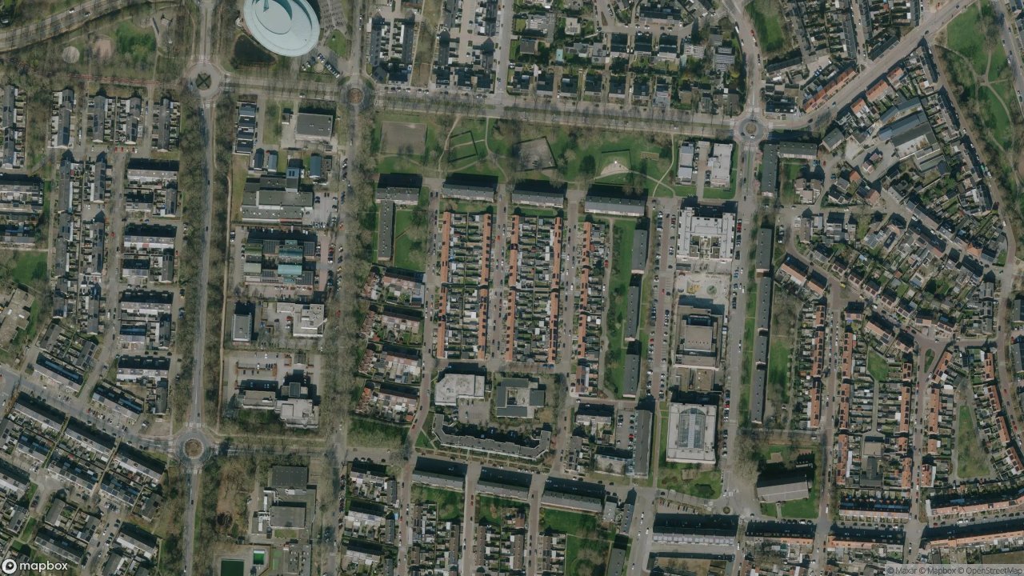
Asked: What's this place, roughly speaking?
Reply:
residential area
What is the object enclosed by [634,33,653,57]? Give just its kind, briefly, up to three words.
house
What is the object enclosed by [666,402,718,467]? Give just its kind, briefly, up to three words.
building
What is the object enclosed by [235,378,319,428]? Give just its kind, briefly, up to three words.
house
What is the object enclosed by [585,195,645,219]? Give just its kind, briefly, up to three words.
building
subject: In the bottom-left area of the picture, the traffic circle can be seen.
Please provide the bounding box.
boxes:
[171,427,214,469]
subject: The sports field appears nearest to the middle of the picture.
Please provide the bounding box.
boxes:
[516,136,555,170]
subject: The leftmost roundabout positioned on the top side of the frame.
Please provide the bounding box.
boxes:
[187,63,224,100]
